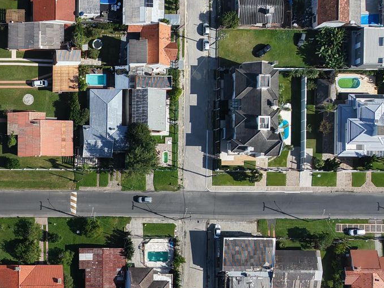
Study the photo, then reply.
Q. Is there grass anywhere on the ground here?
Yes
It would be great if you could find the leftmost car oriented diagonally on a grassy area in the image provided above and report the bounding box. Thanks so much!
[255,45,272,57]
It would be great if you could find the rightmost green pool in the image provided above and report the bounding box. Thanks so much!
[336,75,363,90]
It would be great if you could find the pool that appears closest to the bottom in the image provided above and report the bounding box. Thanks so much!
[147,250,170,262]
